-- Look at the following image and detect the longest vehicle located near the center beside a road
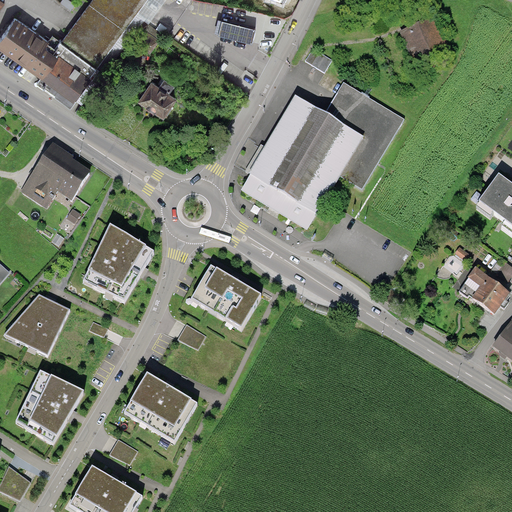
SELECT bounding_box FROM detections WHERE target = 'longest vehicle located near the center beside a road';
[200,228,232,244]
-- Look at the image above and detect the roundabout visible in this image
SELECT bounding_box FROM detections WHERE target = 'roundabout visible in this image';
[160,176,228,244]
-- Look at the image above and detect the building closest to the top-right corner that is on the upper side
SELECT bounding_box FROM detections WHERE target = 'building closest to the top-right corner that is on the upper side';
[400,21,442,54]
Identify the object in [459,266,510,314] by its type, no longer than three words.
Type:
house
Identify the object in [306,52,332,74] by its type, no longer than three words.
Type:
building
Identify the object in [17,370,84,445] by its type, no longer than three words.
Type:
building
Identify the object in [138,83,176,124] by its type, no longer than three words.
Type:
house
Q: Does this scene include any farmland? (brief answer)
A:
Yes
